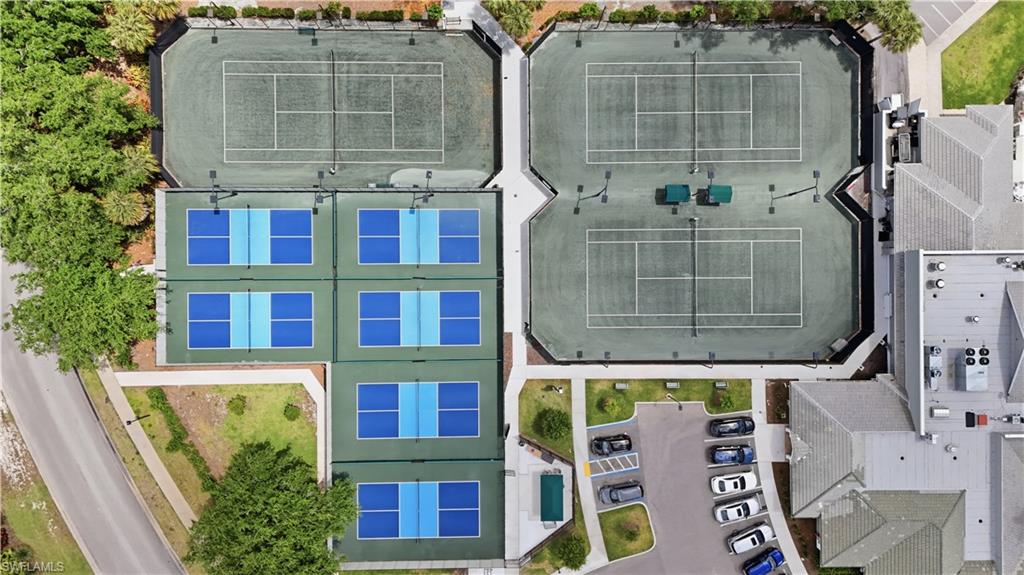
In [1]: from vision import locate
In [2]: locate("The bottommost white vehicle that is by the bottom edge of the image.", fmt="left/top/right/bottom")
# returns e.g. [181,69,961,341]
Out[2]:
[727,523,773,553]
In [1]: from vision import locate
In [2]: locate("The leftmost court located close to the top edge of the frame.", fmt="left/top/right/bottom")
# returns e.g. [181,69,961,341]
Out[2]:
[162,28,501,187]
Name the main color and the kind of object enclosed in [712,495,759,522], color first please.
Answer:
white car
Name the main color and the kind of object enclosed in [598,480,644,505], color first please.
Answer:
gray car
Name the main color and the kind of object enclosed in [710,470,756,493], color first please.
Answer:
white car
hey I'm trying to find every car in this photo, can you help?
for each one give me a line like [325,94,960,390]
[741,545,787,575]
[708,443,753,465]
[598,480,644,505]
[727,523,773,553]
[588,432,634,457]
[710,470,756,493]
[708,415,753,437]
[712,495,759,522]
